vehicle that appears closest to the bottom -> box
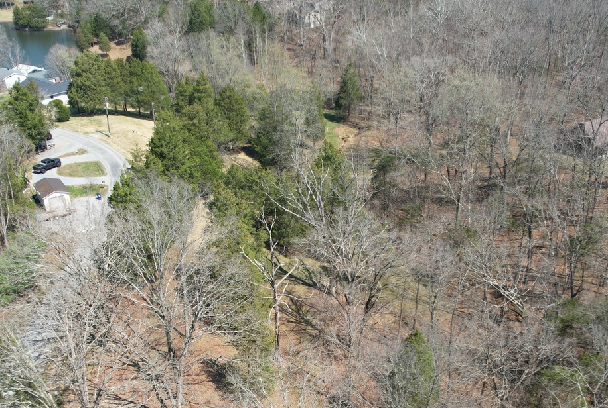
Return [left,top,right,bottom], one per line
[26,153,66,172]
